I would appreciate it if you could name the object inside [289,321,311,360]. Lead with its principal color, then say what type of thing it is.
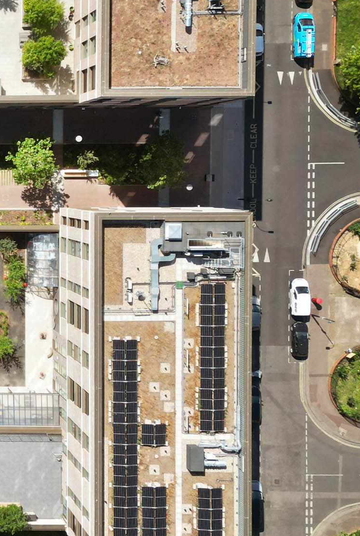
black car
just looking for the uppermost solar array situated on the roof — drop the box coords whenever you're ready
[194,282,229,433]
